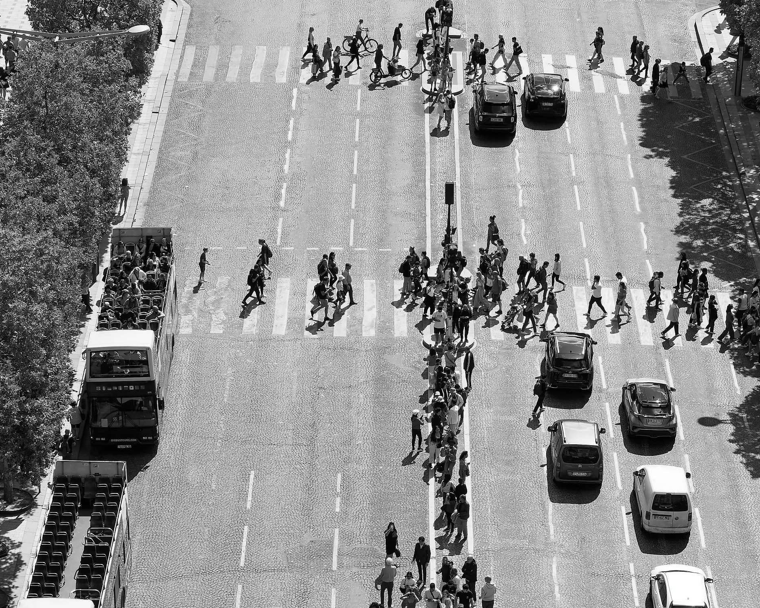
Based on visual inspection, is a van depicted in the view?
Yes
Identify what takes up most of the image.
paved ground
